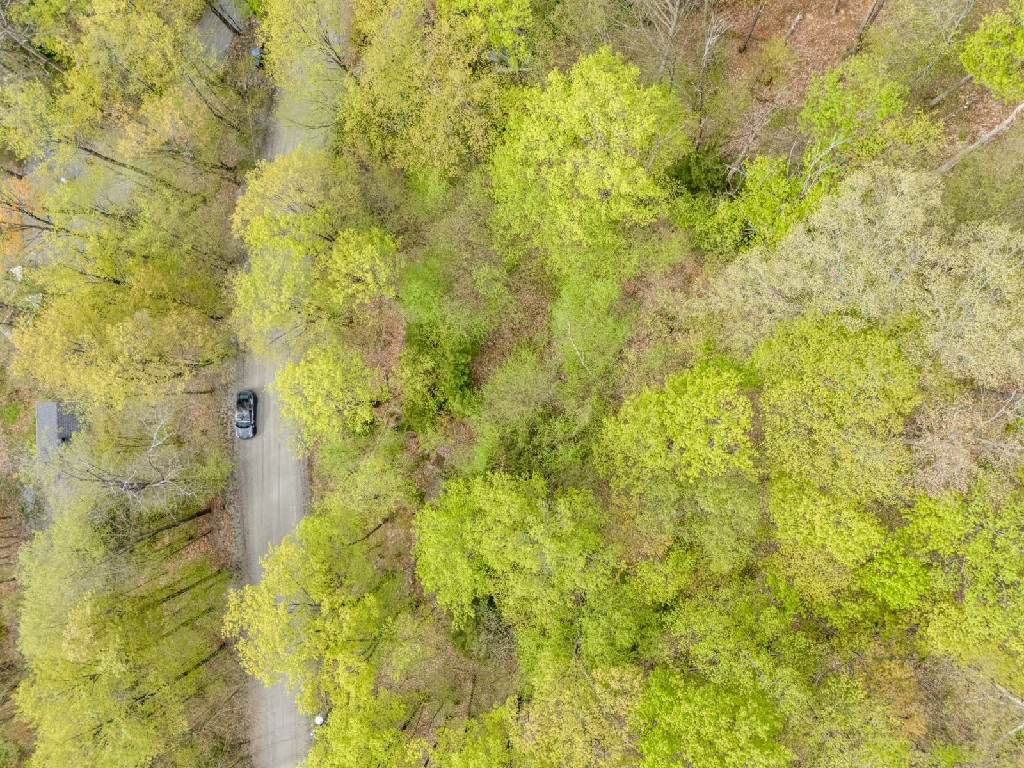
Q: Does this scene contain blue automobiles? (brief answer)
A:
No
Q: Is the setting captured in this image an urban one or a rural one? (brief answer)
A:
rural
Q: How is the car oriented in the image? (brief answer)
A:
from top to bottom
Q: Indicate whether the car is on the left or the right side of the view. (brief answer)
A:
left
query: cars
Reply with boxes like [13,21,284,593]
[231,391,256,439]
